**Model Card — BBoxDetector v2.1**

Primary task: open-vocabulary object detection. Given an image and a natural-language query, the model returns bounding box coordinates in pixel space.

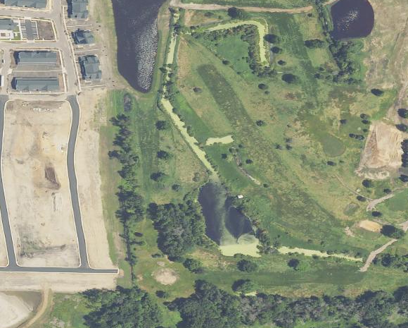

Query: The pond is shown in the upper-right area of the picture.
[331,0,375,40]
